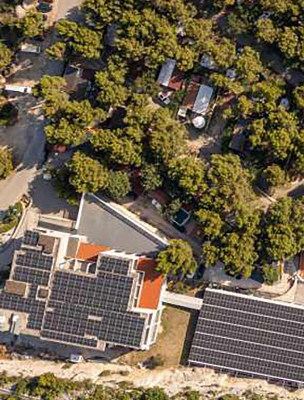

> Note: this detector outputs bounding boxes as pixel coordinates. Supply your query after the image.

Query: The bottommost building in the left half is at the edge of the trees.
[0,227,178,353]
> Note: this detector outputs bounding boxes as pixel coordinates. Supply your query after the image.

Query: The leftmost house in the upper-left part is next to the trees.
[65,68,86,91]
